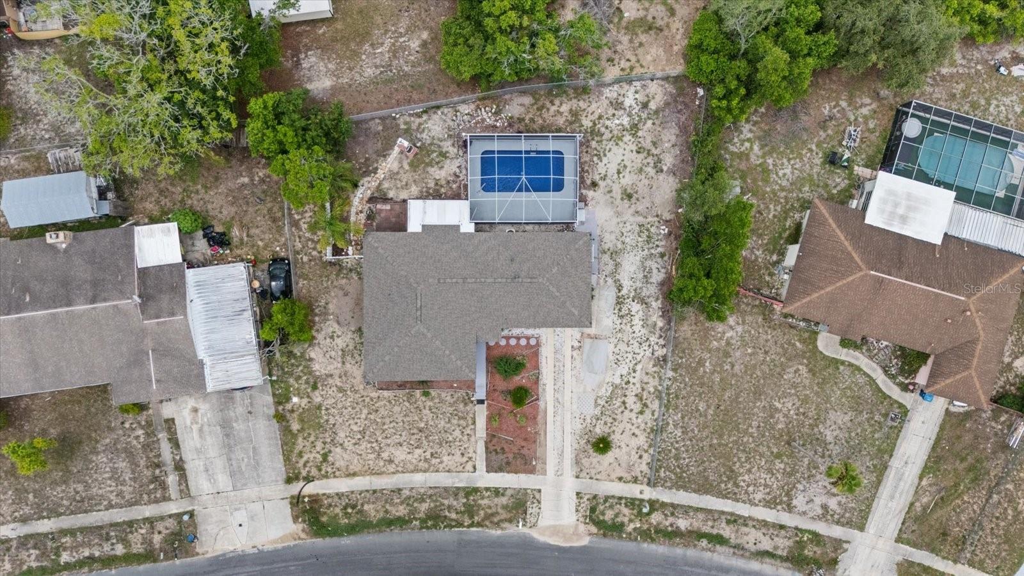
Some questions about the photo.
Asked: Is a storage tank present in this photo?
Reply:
No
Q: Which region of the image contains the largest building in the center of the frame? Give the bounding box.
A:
[363,225,592,382]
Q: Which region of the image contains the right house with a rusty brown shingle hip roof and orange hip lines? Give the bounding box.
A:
[776,197,1024,409]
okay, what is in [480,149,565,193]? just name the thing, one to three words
swimming pool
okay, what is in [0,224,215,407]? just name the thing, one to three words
house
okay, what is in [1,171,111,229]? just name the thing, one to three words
shed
